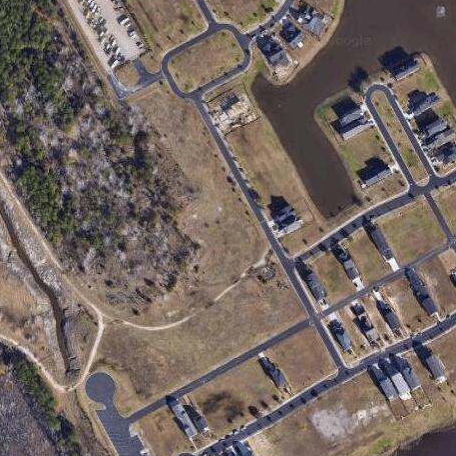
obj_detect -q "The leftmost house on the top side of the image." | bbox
[218,90,247,122]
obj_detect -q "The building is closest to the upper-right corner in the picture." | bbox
[385,57,423,83]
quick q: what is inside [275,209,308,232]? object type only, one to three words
house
